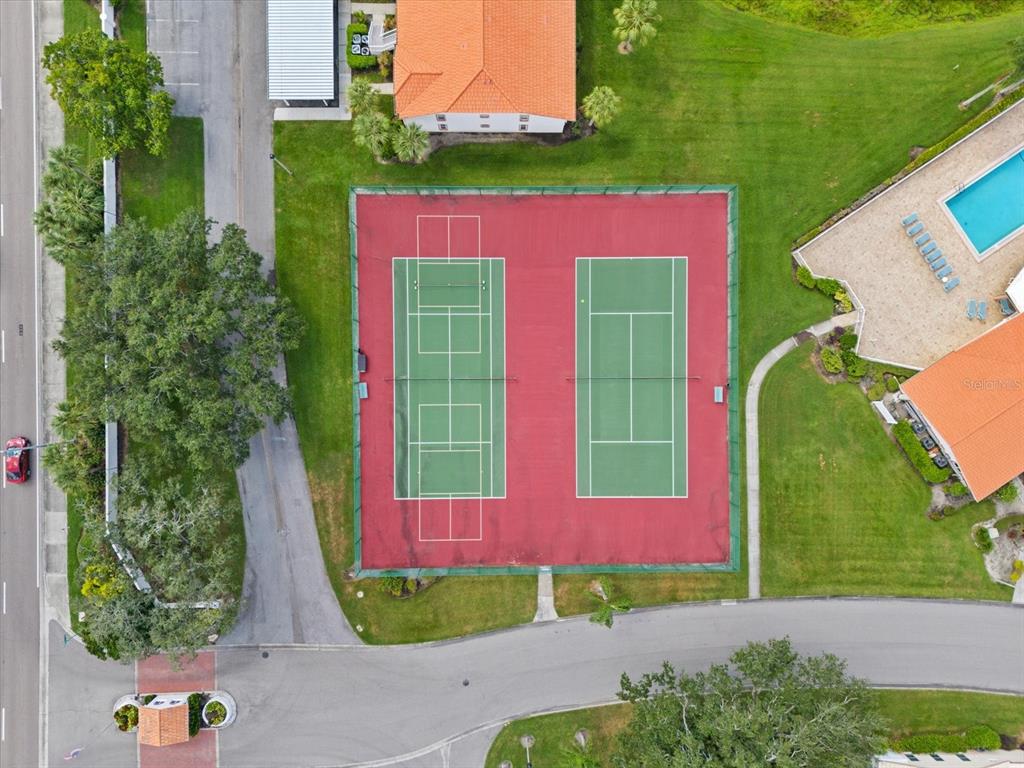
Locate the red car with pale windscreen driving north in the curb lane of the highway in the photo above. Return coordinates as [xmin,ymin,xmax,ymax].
[2,438,32,486]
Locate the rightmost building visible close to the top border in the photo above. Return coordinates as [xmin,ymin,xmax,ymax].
[391,0,577,132]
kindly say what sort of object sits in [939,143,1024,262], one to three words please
swimming pool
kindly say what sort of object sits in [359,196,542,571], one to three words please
tennis court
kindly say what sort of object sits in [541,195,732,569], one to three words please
tennis court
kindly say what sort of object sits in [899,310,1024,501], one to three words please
building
